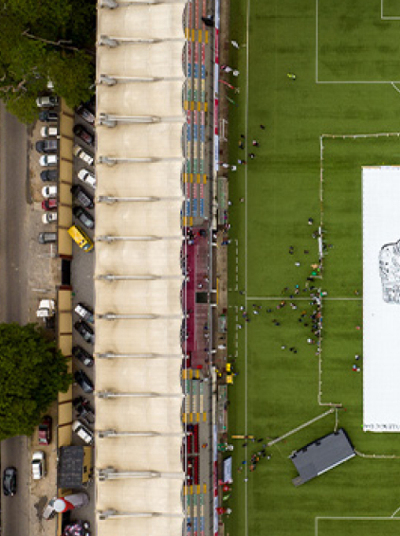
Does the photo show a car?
Yes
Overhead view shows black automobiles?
Yes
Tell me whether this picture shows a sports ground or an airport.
sports ground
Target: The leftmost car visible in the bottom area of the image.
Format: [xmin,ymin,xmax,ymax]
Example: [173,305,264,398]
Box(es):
[2,466,20,496]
